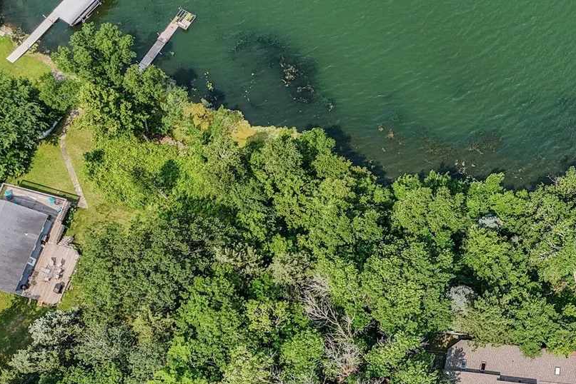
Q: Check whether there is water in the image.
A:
Yes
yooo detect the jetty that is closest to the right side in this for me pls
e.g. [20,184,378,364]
[134,3,199,69]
